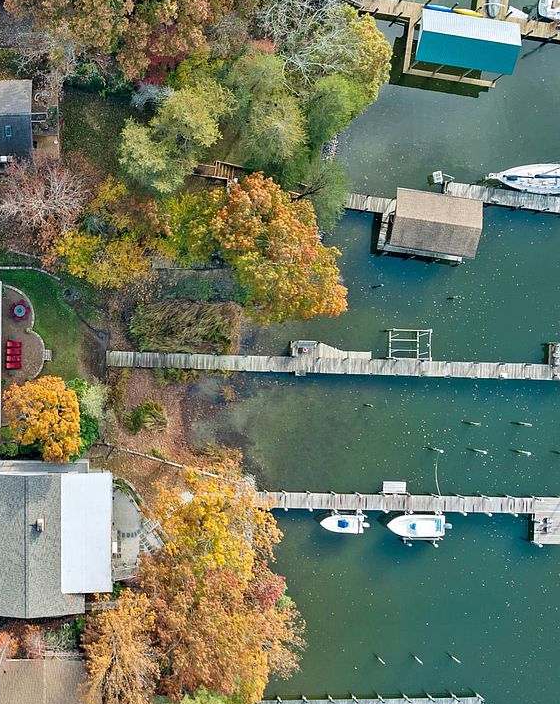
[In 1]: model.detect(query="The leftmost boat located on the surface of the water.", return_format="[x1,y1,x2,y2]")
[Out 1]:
[319,516,372,534]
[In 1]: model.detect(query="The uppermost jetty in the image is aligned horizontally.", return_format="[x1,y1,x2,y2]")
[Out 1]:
[358,0,560,90]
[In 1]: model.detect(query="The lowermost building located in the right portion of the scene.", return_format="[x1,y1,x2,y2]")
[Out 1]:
[383,188,483,259]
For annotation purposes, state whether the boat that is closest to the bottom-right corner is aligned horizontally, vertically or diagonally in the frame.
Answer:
horizontally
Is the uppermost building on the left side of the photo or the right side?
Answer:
right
